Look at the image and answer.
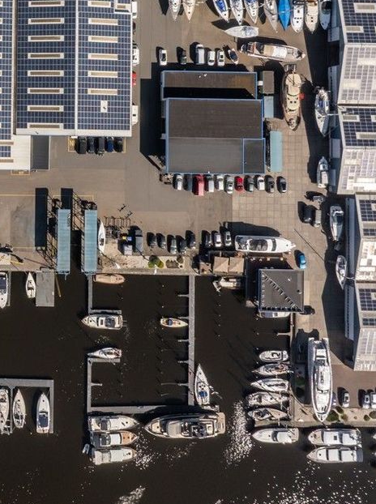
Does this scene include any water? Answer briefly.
Yes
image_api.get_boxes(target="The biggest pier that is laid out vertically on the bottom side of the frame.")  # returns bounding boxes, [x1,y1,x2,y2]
[177,275,195,405]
